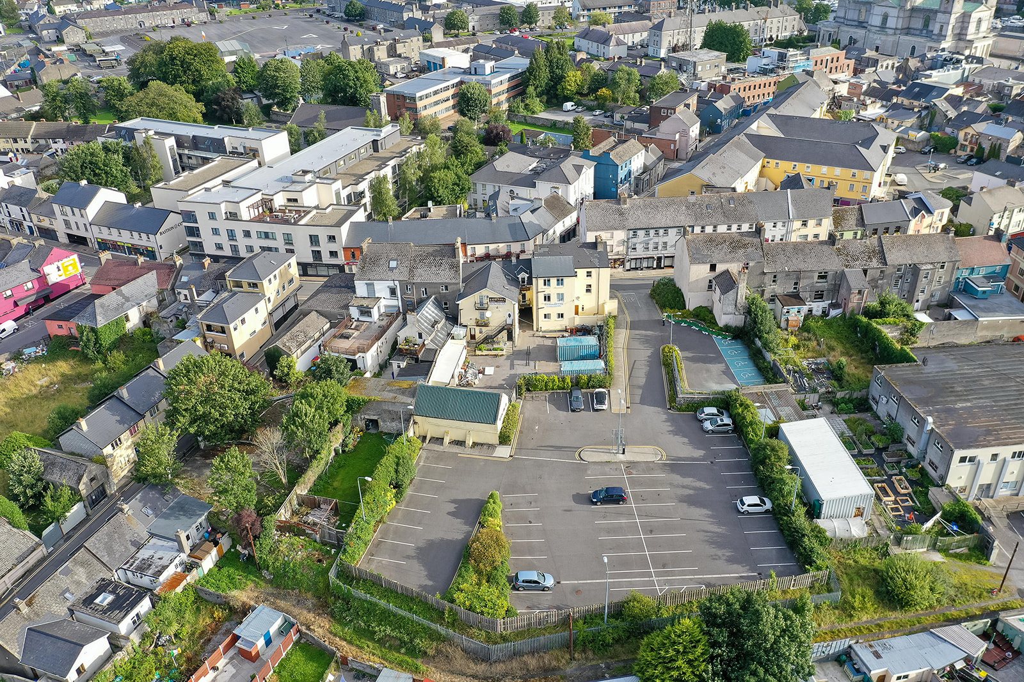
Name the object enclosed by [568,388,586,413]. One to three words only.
car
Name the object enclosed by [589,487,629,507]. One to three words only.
car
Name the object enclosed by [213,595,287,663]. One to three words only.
shed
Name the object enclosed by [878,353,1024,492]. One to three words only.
building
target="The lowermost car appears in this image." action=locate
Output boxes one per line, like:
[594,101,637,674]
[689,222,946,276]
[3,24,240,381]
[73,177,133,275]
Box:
[512,570,555,594]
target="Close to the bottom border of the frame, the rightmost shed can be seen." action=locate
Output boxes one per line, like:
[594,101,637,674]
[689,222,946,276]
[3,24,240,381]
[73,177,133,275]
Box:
[985,601,1024,667]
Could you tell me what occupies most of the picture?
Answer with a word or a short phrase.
buildings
